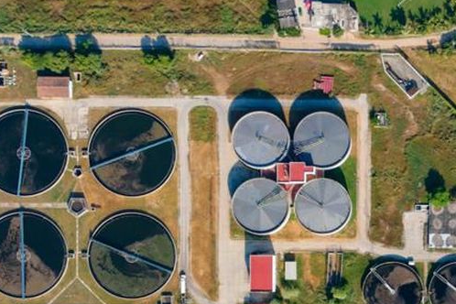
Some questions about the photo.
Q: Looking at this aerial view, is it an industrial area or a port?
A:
industrial area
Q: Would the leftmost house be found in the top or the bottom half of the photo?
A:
top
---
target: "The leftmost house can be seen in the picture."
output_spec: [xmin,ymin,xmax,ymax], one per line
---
[36,77,72,99]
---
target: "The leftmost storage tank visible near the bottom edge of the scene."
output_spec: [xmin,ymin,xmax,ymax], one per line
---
[0,209,69,300]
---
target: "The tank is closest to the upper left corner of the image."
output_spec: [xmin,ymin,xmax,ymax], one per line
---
[0,105,70,198]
